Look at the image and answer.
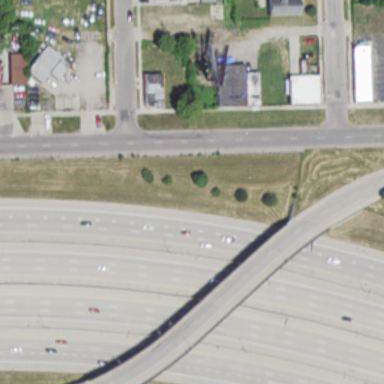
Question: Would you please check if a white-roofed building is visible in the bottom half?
No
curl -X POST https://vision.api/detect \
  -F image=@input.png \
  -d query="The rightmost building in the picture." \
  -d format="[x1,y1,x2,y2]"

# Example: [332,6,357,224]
[354,45,372,102]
